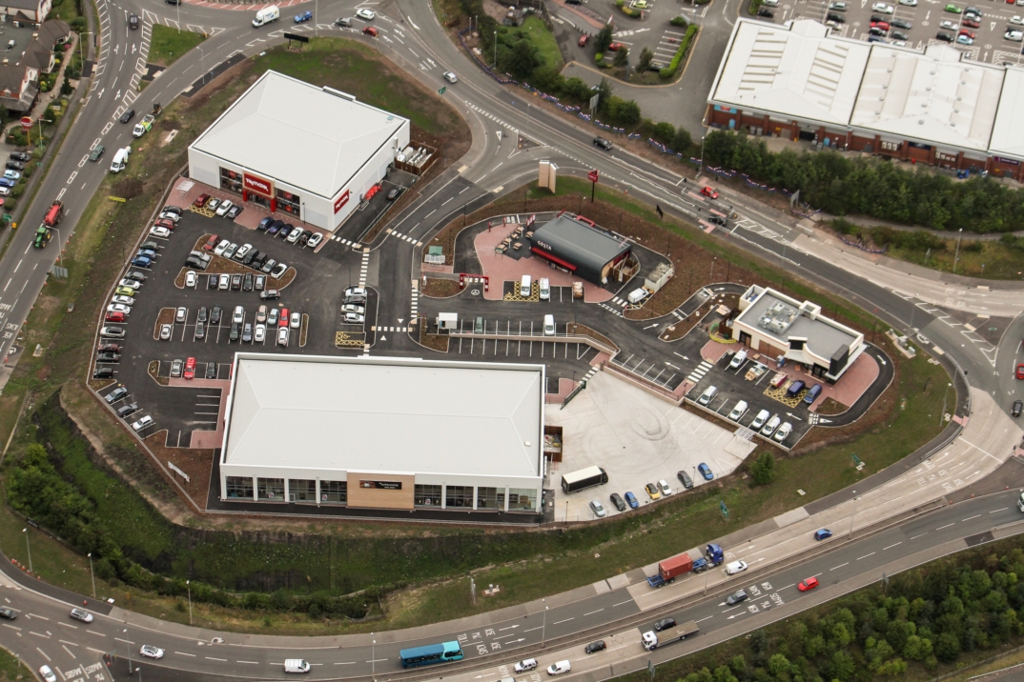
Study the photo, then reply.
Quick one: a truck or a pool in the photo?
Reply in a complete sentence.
This aerial view contains a truck.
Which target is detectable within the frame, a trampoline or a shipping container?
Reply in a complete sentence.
Visible in the photo is a shipping container.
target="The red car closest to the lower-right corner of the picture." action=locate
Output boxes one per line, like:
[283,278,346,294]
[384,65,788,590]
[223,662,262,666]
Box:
[797,577,820,592]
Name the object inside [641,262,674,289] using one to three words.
shipping container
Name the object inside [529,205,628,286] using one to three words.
building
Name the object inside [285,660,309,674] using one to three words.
vehicle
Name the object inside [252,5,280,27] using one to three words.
truck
